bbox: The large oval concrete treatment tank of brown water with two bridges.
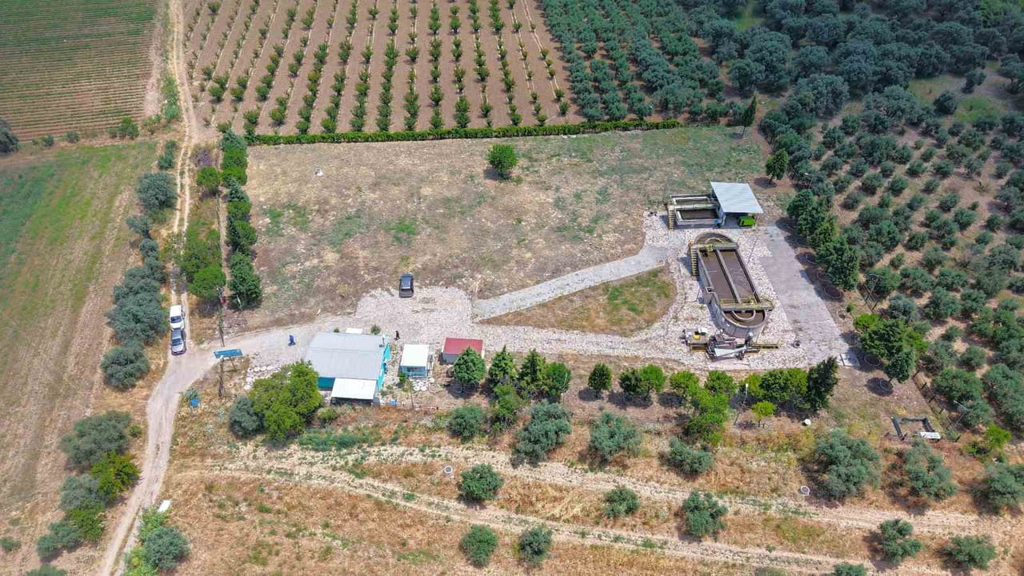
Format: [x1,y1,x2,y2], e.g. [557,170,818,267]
[690,233,777,342]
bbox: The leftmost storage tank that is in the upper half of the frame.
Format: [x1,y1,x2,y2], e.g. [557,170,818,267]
[664,195,721,232]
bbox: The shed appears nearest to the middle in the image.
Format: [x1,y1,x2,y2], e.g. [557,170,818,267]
[443,335,485,365]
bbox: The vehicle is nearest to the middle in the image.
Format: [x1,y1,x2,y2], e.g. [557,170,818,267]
[399,275,414,298]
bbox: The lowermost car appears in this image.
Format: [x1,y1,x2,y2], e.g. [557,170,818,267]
[168,329,186,356]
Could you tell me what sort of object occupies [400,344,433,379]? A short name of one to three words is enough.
building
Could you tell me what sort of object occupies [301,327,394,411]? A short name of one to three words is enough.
house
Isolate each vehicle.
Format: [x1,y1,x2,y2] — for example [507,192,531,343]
[399,275,414,298]
[168,329,186,356]
[167,300,185,330]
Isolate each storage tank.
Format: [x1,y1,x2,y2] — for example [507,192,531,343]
[690,233,777,342]
[664,195,721,232]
